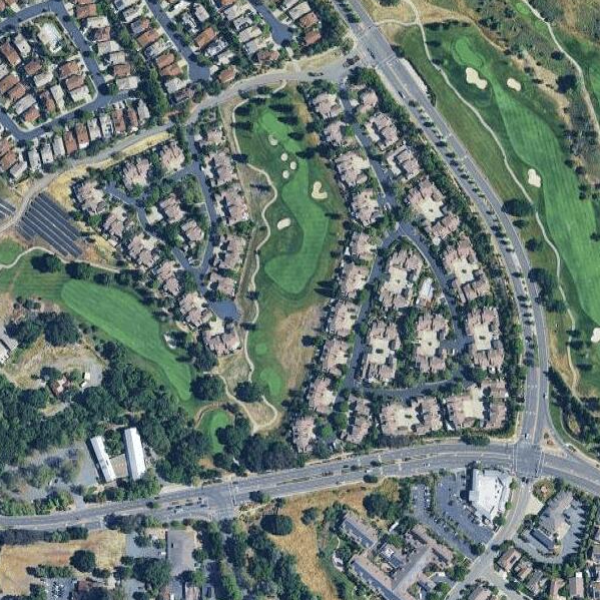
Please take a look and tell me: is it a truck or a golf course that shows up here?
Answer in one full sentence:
The image shows a golf course.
